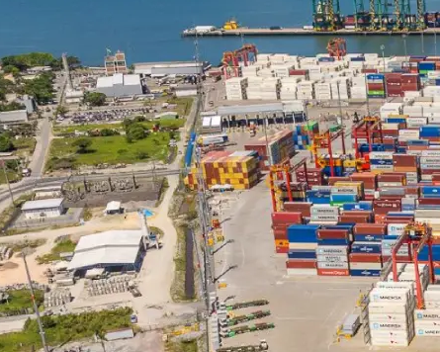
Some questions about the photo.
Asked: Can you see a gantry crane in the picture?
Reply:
Yes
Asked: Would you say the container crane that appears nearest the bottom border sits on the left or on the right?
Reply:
right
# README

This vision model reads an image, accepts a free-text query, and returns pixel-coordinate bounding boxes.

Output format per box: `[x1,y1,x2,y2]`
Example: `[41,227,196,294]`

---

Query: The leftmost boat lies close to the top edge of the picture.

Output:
[227,16,247,29]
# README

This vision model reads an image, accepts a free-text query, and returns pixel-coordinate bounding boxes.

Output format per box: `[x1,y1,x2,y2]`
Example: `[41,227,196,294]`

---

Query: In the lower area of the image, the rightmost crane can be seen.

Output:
[382,221,435,309]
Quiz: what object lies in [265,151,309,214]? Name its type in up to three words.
container crane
